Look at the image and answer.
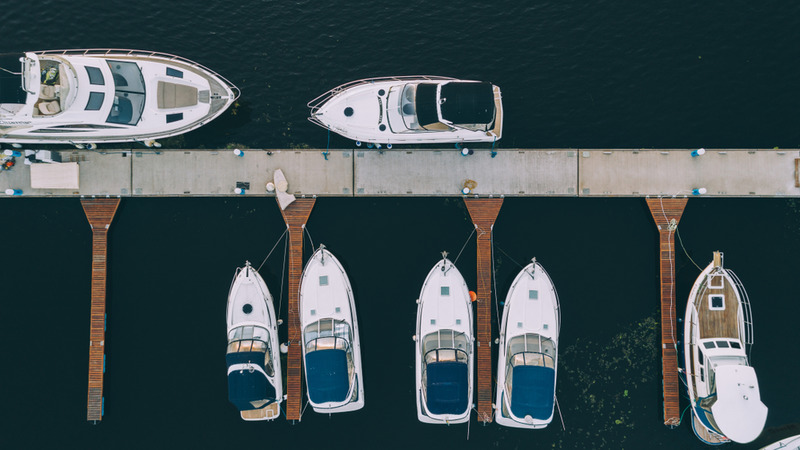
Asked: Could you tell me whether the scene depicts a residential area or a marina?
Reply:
marina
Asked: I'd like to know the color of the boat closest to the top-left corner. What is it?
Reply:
white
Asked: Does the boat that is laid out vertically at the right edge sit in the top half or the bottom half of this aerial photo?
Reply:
bottom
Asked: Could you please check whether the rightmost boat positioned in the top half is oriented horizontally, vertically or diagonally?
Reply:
horizontally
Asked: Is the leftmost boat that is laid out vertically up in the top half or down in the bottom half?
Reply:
bottom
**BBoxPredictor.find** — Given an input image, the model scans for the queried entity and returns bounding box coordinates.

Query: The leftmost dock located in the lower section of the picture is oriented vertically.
[80,196,123,426]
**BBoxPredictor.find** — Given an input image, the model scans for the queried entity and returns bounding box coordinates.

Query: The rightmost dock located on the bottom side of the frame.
[643,196,689,429]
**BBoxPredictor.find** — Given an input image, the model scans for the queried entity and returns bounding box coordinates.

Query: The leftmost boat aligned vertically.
[226,259,283,422]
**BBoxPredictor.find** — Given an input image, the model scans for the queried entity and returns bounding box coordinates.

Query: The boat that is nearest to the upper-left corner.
[0,49,242,145]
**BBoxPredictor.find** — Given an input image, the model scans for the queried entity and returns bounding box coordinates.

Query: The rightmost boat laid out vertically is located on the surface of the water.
[677,252,768,445]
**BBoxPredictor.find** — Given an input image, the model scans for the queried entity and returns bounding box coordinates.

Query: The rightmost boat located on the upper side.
[308,76,504,145]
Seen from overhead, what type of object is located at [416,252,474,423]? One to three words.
boat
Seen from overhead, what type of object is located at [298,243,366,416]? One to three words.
boat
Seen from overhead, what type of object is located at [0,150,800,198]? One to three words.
pier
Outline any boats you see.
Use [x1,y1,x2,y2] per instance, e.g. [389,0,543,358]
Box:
[298,243,366,416]
[308,76,504,145]
[677,252,768,445]
[416,252,474,423]
[0,49,242,145]
[226,259,283,422]
[762,434,800,450]
[496,258,560,430]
